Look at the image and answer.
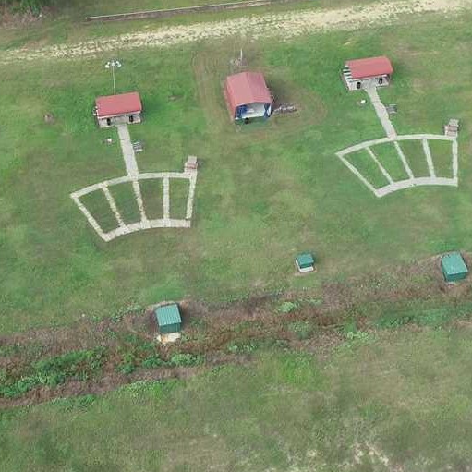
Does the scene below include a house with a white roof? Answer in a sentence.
No, the picture doesn't show any house with a white roof.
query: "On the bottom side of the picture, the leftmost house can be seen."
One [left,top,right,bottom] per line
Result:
[156,302,181,331]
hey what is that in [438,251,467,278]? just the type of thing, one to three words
house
